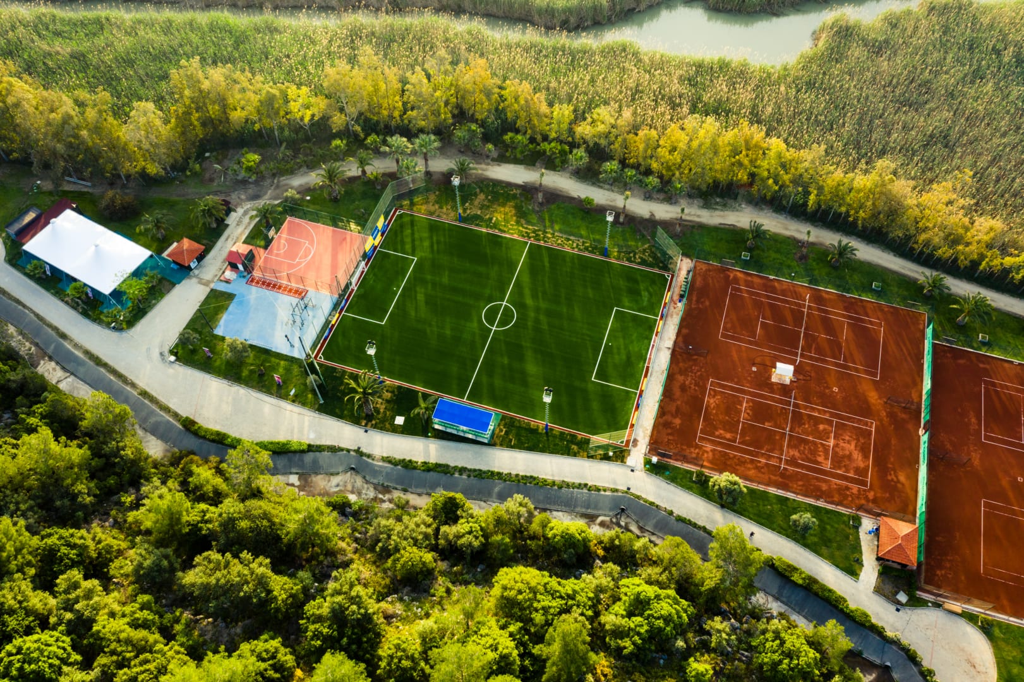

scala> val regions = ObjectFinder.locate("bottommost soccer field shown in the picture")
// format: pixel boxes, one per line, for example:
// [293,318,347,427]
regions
[306,204,680,452]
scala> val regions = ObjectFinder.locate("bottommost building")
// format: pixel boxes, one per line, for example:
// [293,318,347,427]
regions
[872,516,919,570]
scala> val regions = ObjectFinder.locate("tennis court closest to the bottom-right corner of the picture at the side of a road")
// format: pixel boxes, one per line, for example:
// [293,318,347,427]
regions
[922,457,1024,623]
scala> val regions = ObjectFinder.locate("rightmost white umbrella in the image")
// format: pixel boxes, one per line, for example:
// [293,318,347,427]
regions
[221,267,236,282]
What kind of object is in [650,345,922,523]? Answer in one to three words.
tennis court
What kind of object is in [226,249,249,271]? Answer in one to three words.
shed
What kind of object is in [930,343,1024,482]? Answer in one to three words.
tennis court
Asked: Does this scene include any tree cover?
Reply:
Yes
